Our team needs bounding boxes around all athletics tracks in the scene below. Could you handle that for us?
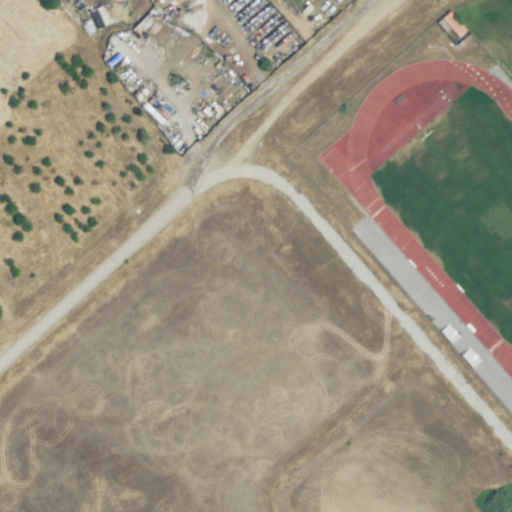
[320,60,512,380]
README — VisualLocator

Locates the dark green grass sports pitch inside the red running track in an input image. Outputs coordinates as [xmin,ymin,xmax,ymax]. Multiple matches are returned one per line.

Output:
[371,86,512,348]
